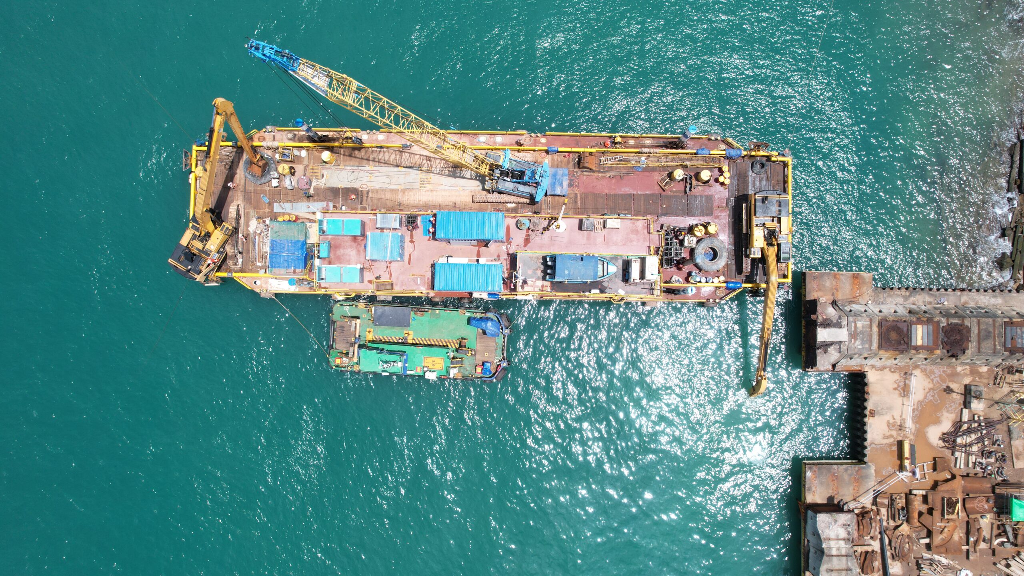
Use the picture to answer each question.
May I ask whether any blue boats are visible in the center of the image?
Yes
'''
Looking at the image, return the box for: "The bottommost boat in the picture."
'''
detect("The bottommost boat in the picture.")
[326,299,513,387]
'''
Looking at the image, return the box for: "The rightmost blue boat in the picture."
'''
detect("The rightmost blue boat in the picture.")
[546,255,621,284]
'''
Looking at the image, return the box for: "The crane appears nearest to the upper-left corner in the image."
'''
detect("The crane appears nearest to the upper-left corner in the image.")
[241,38,546,205]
